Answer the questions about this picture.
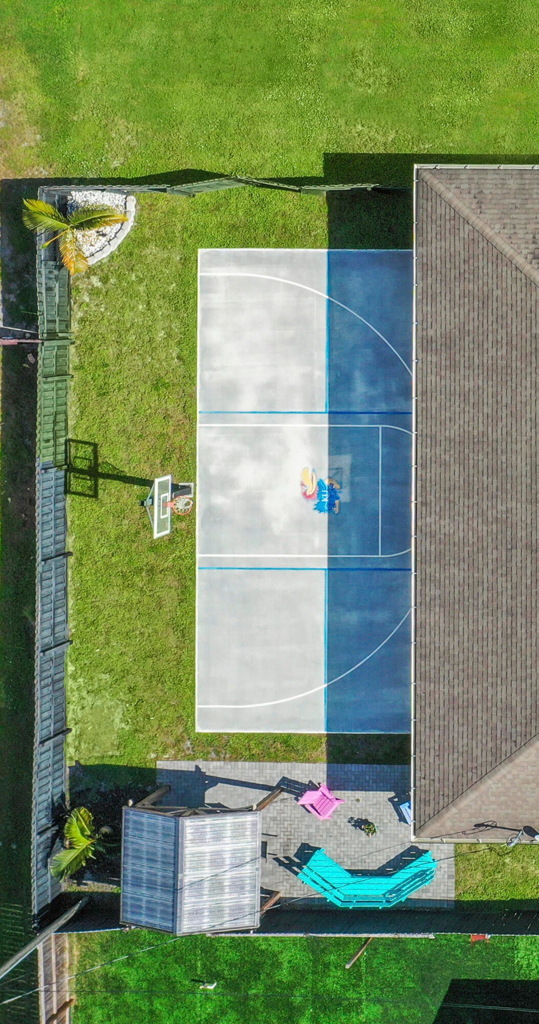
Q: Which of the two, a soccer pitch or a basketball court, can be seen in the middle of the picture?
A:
basketball court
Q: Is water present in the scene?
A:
No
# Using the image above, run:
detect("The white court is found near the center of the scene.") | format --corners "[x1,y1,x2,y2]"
[196,248,412,733]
